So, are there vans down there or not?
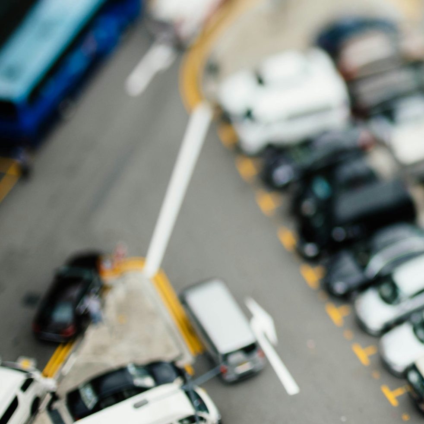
Yes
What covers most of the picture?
paved ground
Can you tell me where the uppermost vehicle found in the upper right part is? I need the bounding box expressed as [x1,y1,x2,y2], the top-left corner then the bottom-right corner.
[307,1,408,57]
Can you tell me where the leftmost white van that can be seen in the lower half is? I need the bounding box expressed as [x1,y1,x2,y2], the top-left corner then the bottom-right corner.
[0,366,57,424]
